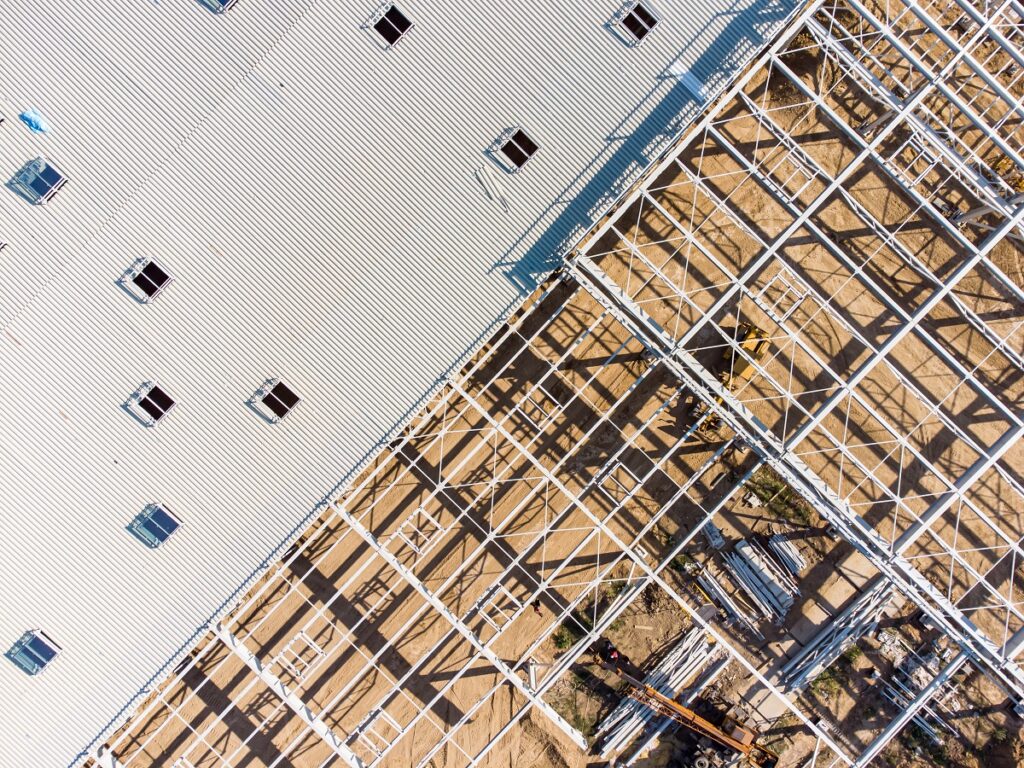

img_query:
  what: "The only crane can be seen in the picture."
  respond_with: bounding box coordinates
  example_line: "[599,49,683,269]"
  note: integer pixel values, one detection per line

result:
[592,649,777,768]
